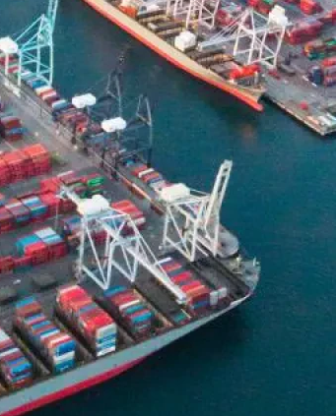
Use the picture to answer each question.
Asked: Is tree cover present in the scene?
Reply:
No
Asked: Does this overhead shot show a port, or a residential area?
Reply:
port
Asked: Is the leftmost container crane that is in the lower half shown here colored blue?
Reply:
No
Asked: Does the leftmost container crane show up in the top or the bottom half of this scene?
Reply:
top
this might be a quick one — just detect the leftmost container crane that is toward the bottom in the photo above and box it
[65,195,194,308]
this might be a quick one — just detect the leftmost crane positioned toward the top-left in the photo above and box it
[0,0,61,94]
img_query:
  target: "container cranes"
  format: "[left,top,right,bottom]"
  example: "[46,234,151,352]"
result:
[0,0,61,94]
[187,6,305,74]
[65,195,194,308]
[79,41,149,161]
[155,157,238,272]
[110,71,181,189]
[135,0,227,36]
[167,0,209,28]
